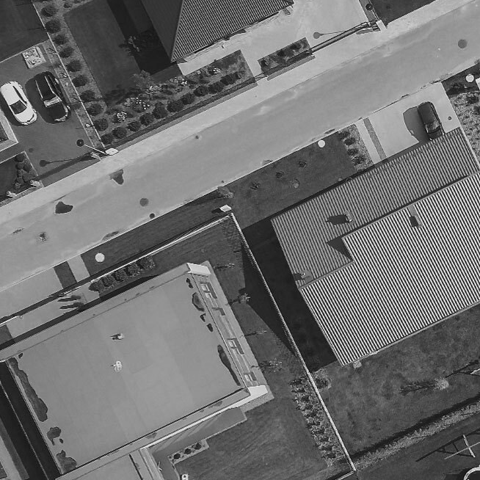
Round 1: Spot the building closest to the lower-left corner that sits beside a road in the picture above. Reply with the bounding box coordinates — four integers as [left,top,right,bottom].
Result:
[0,263,266,480]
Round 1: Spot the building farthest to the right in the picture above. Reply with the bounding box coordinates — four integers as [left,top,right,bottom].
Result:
[270,127,480,365]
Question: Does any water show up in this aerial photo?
No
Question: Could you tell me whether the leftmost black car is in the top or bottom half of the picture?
top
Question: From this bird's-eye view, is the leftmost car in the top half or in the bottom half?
top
